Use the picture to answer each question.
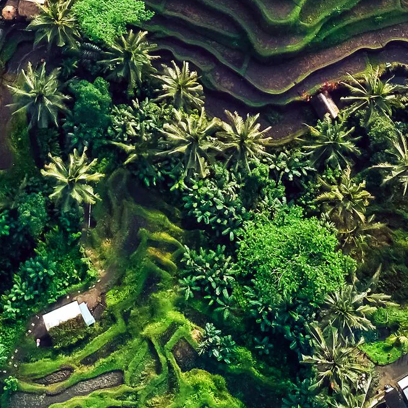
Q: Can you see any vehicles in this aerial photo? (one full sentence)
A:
No, I can't see a single vehicle in this photo.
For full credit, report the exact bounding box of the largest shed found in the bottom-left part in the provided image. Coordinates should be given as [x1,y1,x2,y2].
[42,295,93,343]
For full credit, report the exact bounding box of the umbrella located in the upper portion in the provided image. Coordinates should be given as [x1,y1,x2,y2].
[2,5,17,19]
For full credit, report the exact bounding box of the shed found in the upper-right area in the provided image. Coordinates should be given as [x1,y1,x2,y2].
[303,86,343,124]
